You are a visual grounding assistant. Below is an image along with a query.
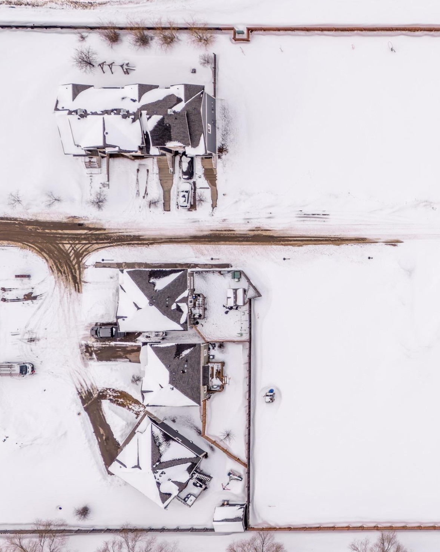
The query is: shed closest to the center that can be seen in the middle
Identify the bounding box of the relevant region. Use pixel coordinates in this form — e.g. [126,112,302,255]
[227,288,247,307]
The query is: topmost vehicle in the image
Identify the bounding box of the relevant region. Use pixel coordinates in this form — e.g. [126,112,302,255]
[180,155,194,183]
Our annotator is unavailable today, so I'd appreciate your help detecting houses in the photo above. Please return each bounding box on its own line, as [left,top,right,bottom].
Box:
[54,84,216,181]
[117,268,205,331]
[109,410,213,509]
[140,342,228,407]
